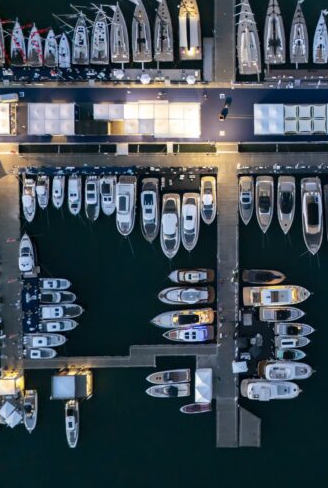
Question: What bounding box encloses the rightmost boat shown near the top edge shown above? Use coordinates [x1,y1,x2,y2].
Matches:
[312,9,328,64]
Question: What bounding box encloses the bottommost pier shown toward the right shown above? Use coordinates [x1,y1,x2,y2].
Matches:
[239,404,261,447]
